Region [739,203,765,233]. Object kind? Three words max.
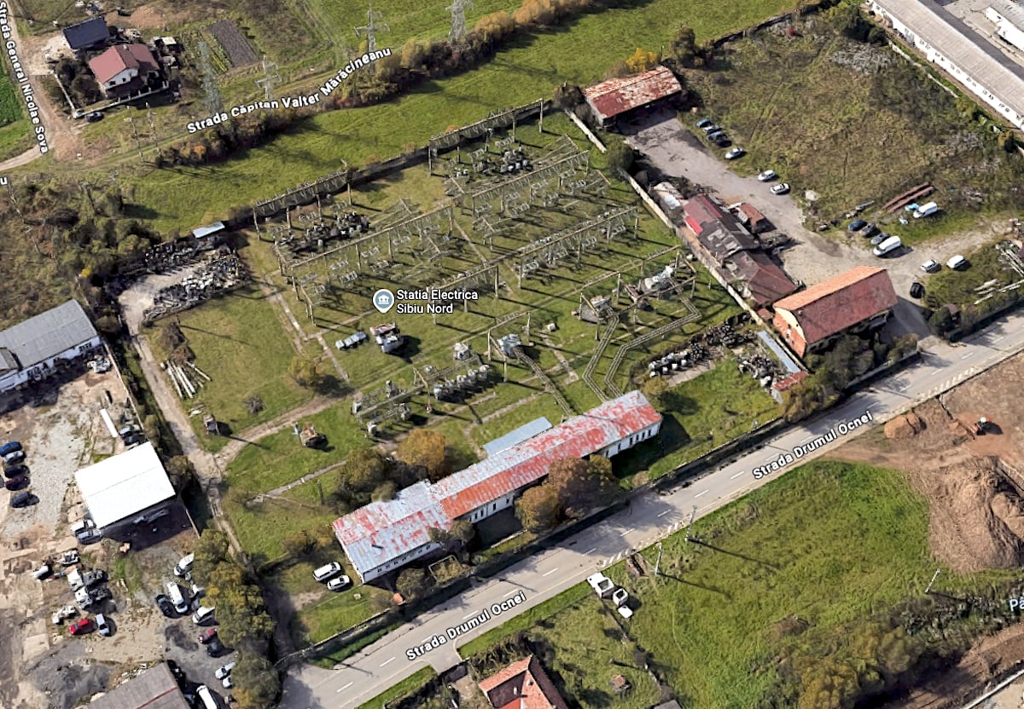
shed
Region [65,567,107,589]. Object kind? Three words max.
truck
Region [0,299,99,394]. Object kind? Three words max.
building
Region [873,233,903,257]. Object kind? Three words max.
vehicle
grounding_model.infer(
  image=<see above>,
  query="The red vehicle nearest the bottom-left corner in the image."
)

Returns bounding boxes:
[68,620,95,638]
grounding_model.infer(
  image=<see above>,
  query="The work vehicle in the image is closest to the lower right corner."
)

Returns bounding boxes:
[965,416,993,437]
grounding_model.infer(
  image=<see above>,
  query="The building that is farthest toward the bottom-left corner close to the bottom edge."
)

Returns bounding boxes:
[86,664,189,709]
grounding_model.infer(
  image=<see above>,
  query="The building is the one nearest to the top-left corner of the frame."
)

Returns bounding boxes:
[62,16,111,59]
